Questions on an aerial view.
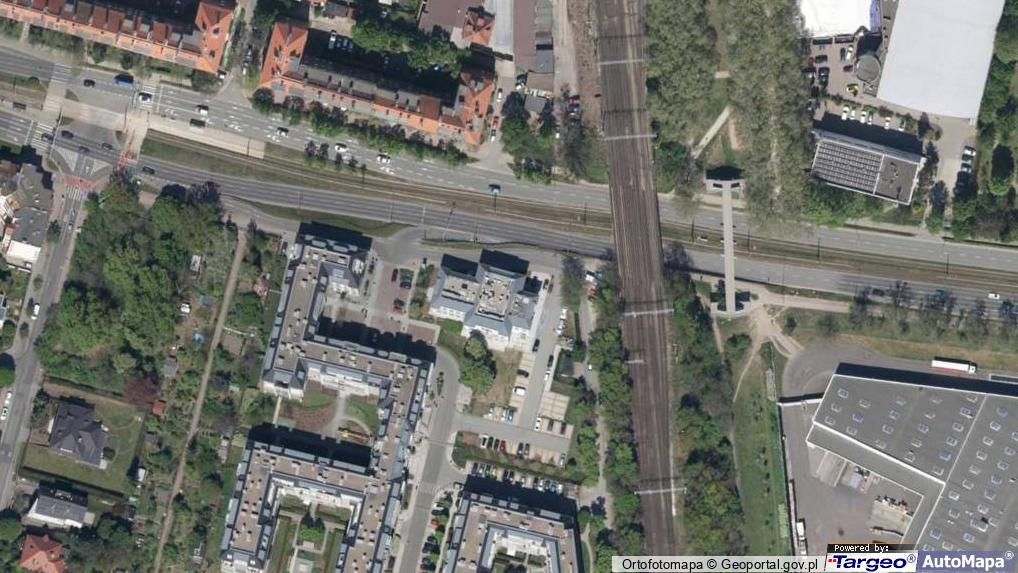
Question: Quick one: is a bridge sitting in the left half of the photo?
No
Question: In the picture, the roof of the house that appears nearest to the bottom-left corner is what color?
red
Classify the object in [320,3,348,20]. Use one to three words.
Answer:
building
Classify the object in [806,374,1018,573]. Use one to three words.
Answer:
warehouse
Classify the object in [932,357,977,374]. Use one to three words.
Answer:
vehicle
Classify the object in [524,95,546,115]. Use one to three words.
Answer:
shed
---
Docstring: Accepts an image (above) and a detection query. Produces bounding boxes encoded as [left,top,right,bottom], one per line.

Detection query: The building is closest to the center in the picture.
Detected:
[430,263,539,346]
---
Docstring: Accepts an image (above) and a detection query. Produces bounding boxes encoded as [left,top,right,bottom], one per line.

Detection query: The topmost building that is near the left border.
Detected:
[0,0,237,86]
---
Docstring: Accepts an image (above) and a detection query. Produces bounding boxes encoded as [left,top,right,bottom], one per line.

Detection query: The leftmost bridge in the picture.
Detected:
[608,178,663,273]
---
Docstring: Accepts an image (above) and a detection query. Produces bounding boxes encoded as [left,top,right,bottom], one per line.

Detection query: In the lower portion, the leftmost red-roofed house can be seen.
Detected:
[20,534,66,573]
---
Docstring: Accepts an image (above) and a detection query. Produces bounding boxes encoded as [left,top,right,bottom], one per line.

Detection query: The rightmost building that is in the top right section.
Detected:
[876,0,1001,127]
